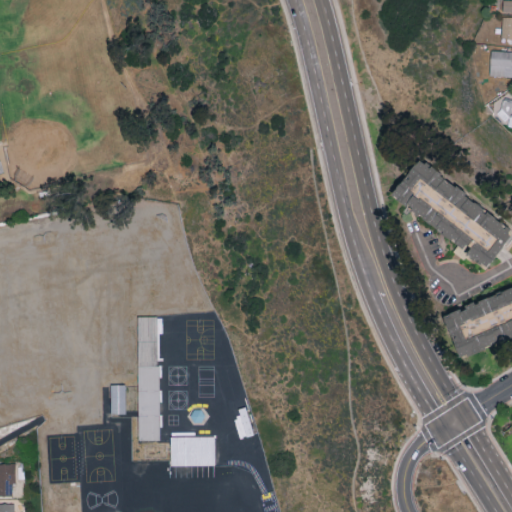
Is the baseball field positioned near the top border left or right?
left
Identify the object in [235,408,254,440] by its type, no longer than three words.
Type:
building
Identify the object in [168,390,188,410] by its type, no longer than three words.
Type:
sports court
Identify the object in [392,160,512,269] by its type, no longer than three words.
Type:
building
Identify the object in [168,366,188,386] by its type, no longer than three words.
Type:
sports court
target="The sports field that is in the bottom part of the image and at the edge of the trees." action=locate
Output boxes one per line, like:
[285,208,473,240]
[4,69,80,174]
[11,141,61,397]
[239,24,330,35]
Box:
[0,201,214,512]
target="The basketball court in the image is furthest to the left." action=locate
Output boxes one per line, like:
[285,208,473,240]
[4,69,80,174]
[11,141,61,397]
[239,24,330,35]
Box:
[48,434,80,484]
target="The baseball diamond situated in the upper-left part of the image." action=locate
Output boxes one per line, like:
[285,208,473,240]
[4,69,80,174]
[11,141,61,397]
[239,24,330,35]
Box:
[0,0,152,193]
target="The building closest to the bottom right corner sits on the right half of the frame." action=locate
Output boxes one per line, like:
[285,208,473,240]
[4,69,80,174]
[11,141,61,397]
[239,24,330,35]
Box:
[443,284,512,359]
